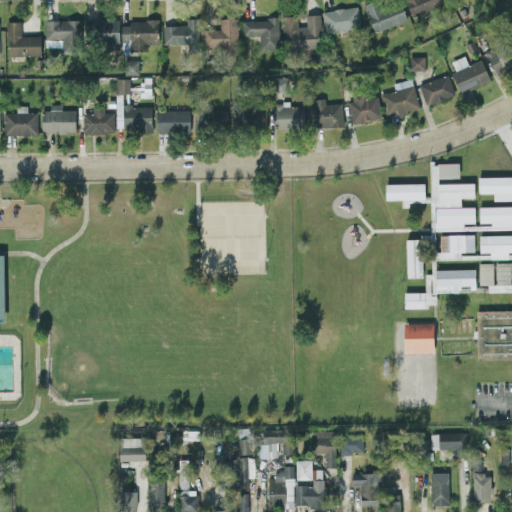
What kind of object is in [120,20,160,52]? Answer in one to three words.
house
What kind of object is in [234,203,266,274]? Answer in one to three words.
tennis court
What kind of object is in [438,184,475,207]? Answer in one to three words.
building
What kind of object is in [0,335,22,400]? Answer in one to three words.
swimming pool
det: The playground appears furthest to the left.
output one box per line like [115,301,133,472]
[0,200,44,240]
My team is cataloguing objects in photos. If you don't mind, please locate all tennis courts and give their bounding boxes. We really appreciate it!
[202,203,234,274]
[234,203,266,274]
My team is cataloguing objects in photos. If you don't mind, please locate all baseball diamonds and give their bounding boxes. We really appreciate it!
[50,294,154,398]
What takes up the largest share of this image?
grass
